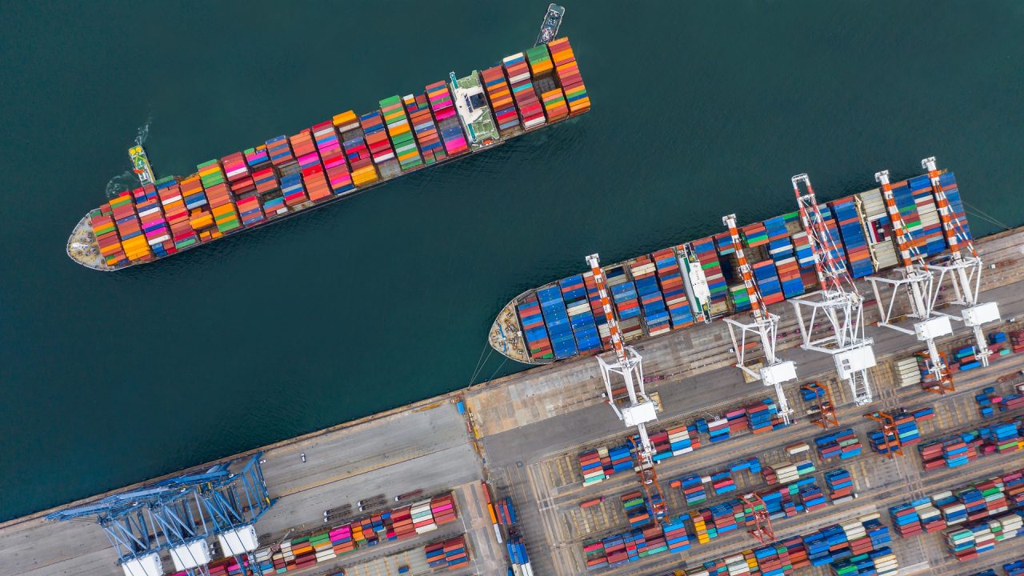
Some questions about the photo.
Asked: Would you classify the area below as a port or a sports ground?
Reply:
port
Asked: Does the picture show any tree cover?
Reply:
No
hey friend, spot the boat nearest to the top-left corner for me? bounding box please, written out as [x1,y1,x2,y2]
[128,144,157,187]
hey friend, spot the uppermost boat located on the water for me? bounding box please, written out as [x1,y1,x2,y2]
[537,2,566,47]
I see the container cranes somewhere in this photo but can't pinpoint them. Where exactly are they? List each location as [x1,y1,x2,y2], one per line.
[586,254,662,467]
[857,170,954,383]
[637,477,671,528]
[33,486,188,576]
[862,410,907,463]
[717,214,799,427]
[624,434,659,485]
[901,155,1002,369]
[799,380,841,431]
[737,490,776,546]
[782,172,879,411]
[148,451,282,576]
[912,349,958,397]
[90,464,233,576]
